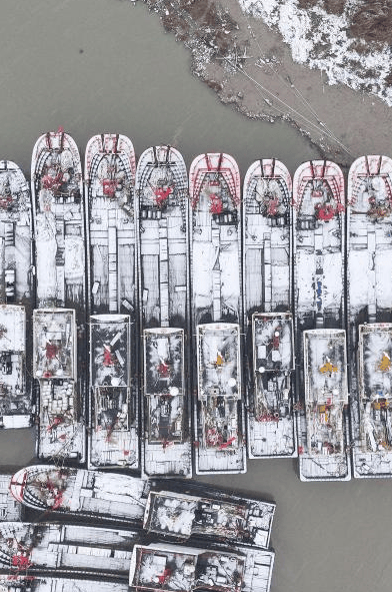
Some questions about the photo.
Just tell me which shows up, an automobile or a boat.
boat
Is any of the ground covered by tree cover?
No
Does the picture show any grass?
No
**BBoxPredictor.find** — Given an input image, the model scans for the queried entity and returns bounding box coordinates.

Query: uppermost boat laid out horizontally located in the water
[7,465,276,547]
